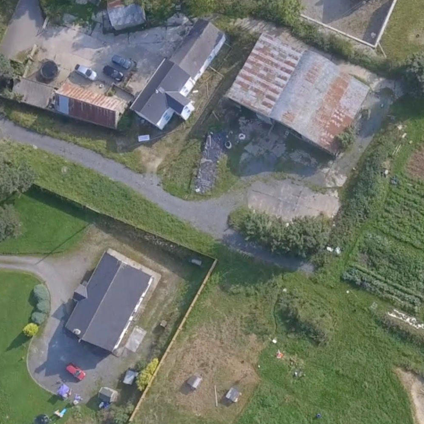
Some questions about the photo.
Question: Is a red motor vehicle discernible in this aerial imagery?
Yes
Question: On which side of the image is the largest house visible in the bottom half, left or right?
left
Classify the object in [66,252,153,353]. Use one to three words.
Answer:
house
